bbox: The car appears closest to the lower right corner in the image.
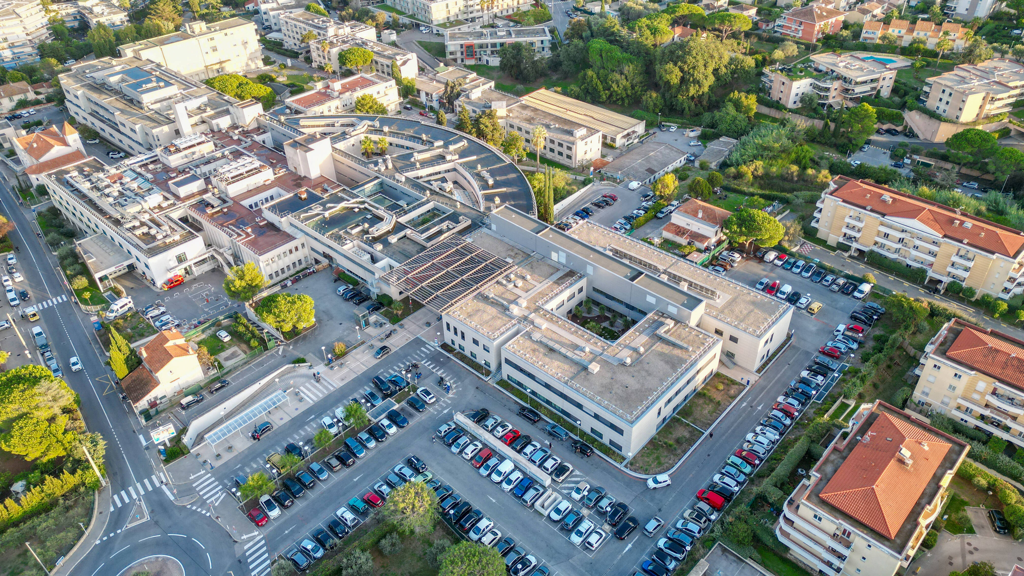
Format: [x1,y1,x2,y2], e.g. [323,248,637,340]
[985,509,1007,536]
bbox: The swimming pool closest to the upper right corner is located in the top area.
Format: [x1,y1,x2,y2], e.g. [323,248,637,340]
[841,48,915,67]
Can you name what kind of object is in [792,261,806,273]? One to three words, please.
vehicle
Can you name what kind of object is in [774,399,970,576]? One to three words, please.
house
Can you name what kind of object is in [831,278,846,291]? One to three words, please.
vehicle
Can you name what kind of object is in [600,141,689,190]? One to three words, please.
building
